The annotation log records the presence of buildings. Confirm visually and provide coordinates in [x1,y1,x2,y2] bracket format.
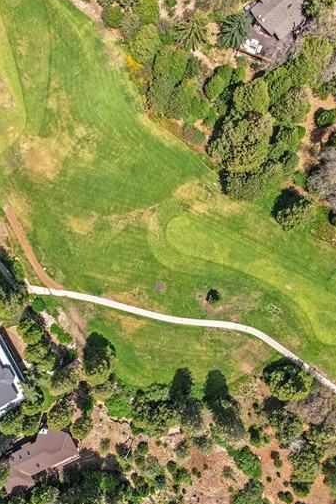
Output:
[0,333,26,411]
[240,0,308,63]
[4,428,81,494]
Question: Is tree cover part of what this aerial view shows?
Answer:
Yes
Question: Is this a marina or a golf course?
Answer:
golf course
